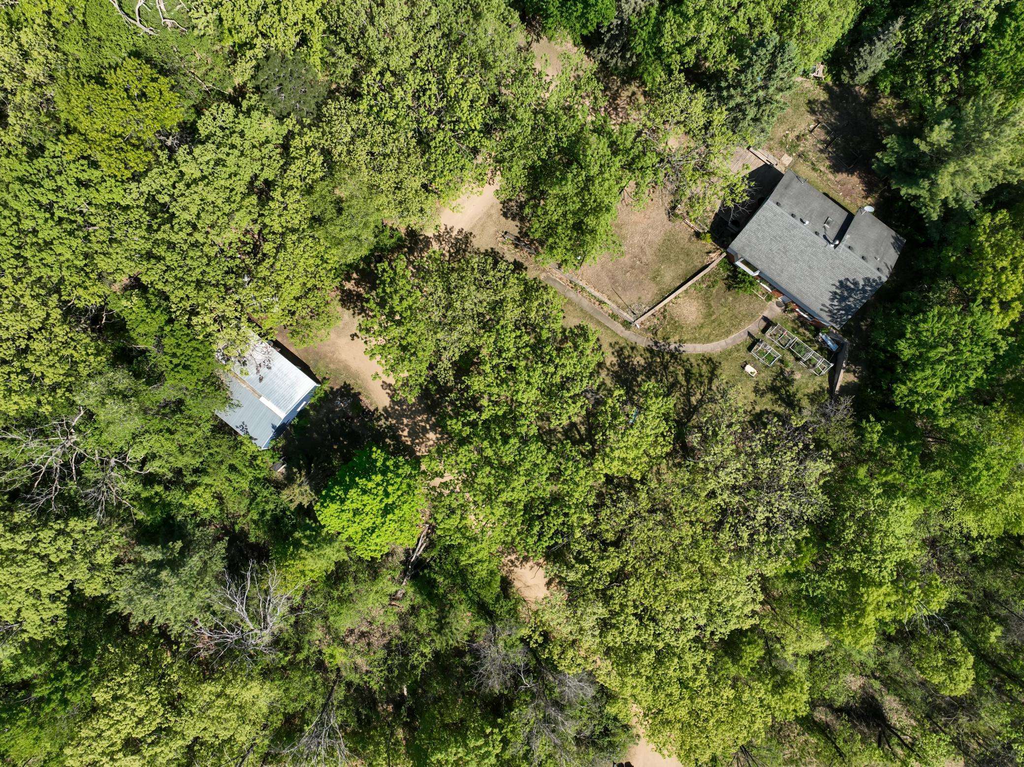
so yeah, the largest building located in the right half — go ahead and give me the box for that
[721,167,910,334]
